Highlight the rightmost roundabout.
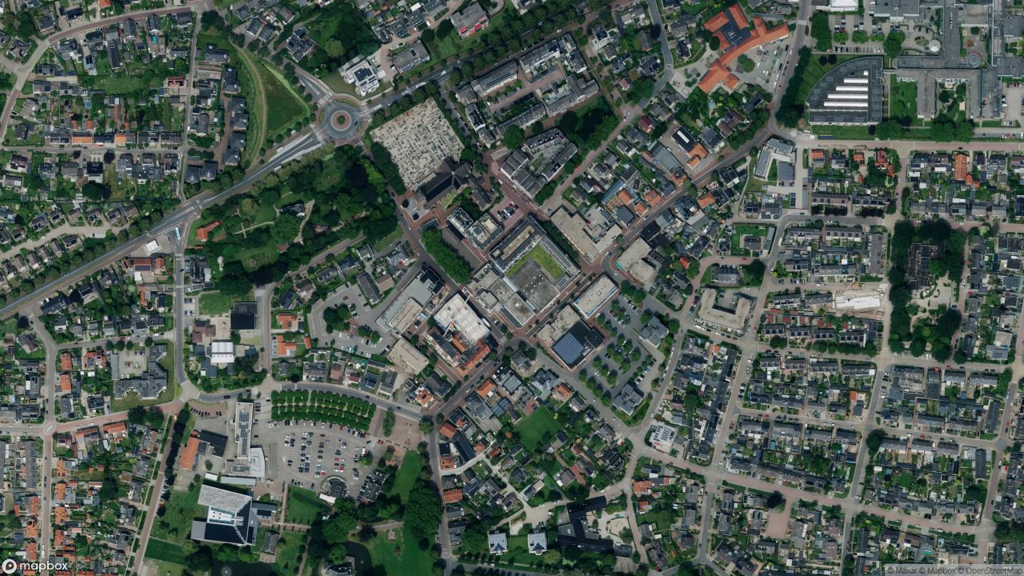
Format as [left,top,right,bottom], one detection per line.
[316,95,366,145]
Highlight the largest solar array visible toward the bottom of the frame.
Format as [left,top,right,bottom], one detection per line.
[554,335,584,363]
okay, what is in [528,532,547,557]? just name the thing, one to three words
house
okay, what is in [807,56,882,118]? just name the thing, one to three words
building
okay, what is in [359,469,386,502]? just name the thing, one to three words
building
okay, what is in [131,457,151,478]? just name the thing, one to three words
house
